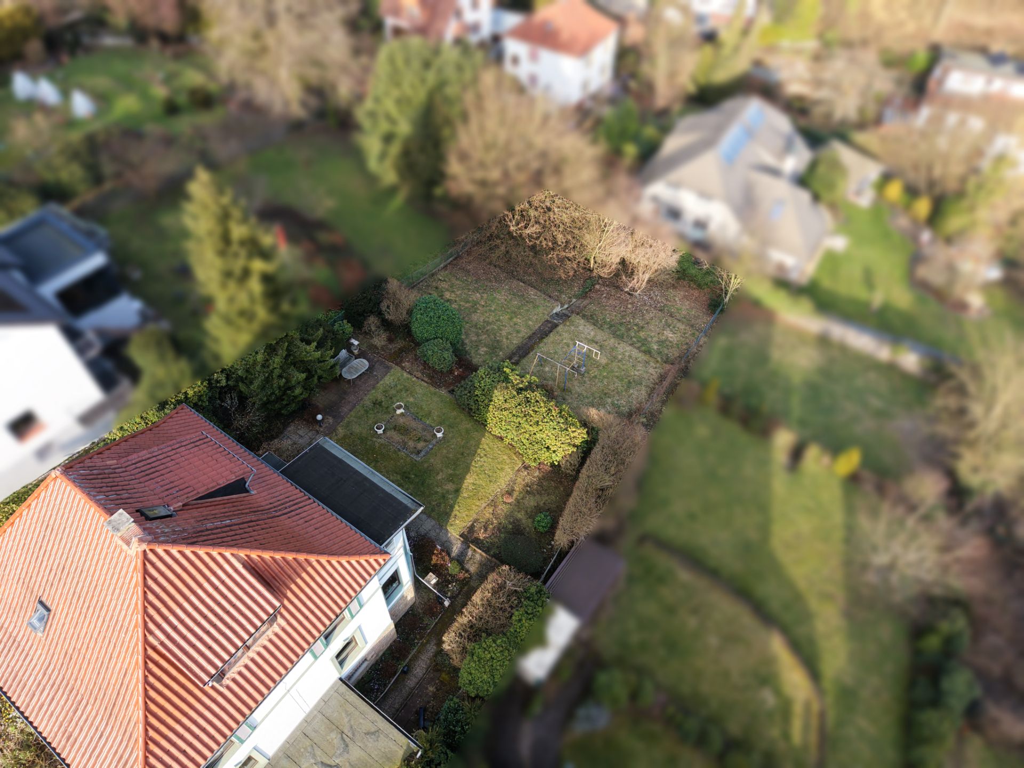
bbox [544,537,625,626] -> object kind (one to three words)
shed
